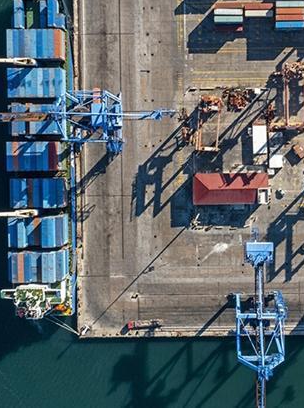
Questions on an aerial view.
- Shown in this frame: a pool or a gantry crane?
gantry crane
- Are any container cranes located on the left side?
Yes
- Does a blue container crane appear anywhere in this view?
Yes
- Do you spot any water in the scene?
Yes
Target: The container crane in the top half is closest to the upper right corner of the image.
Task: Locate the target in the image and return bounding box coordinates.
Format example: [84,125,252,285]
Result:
[263,62,304,133]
